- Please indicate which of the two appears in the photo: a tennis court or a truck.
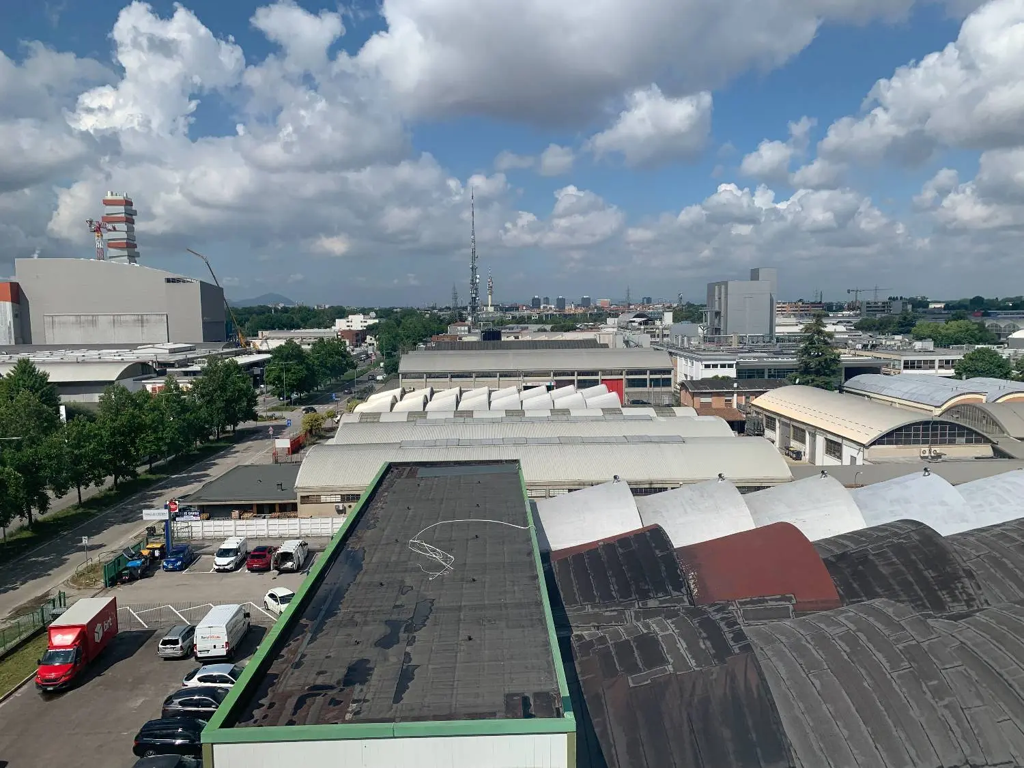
truck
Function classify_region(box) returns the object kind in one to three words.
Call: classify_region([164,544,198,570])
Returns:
car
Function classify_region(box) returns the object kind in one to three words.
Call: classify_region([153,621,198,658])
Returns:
car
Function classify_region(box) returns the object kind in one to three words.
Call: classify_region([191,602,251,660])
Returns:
van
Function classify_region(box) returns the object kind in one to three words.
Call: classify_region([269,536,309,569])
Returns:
van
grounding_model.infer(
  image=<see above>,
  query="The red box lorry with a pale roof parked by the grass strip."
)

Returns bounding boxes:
[26,596,118,690]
